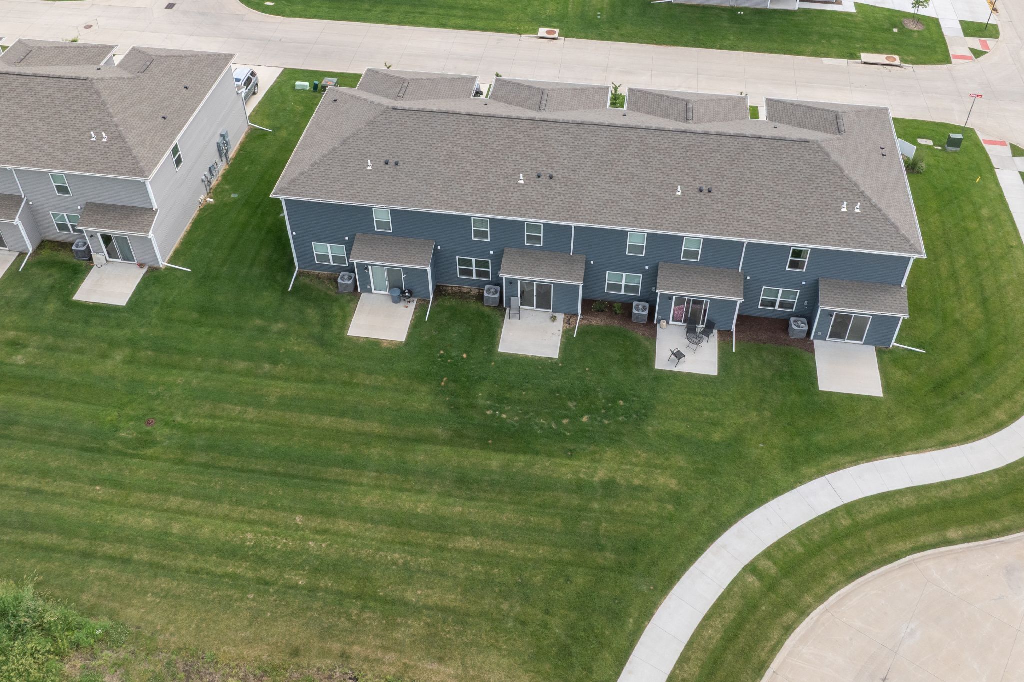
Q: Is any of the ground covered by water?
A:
No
